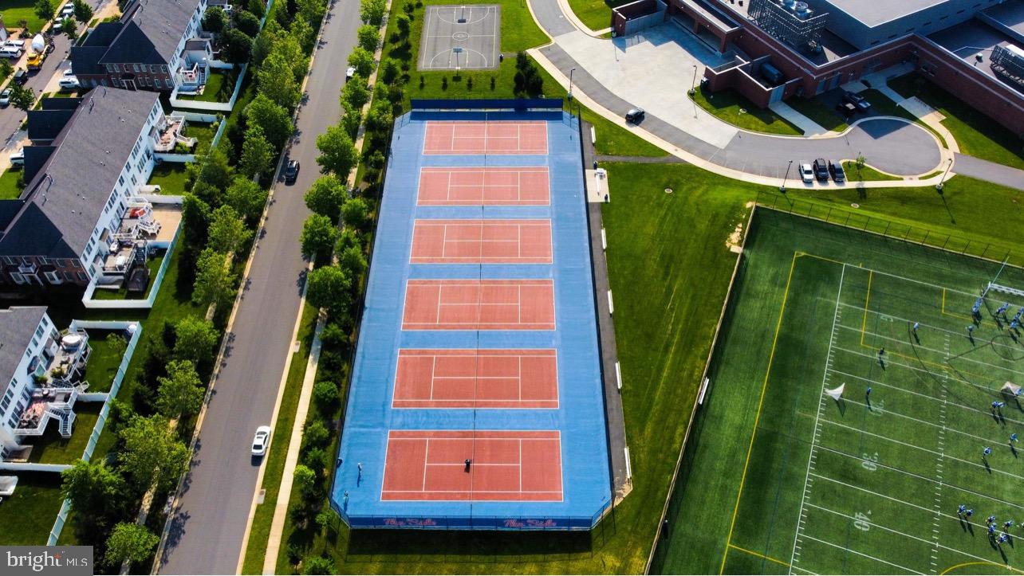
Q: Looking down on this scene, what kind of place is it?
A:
sports ground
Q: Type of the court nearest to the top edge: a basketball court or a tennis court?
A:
basketball court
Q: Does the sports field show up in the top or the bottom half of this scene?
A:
bottom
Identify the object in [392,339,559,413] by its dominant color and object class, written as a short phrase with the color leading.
red tennis court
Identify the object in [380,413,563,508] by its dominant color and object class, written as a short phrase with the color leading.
red tennis court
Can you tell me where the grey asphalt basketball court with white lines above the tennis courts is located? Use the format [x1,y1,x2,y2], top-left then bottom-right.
[417,4,502,71]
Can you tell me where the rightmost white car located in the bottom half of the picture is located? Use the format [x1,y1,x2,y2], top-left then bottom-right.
[247,427,268,459]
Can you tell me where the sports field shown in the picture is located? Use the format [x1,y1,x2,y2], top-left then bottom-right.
[647,207,1024,576]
